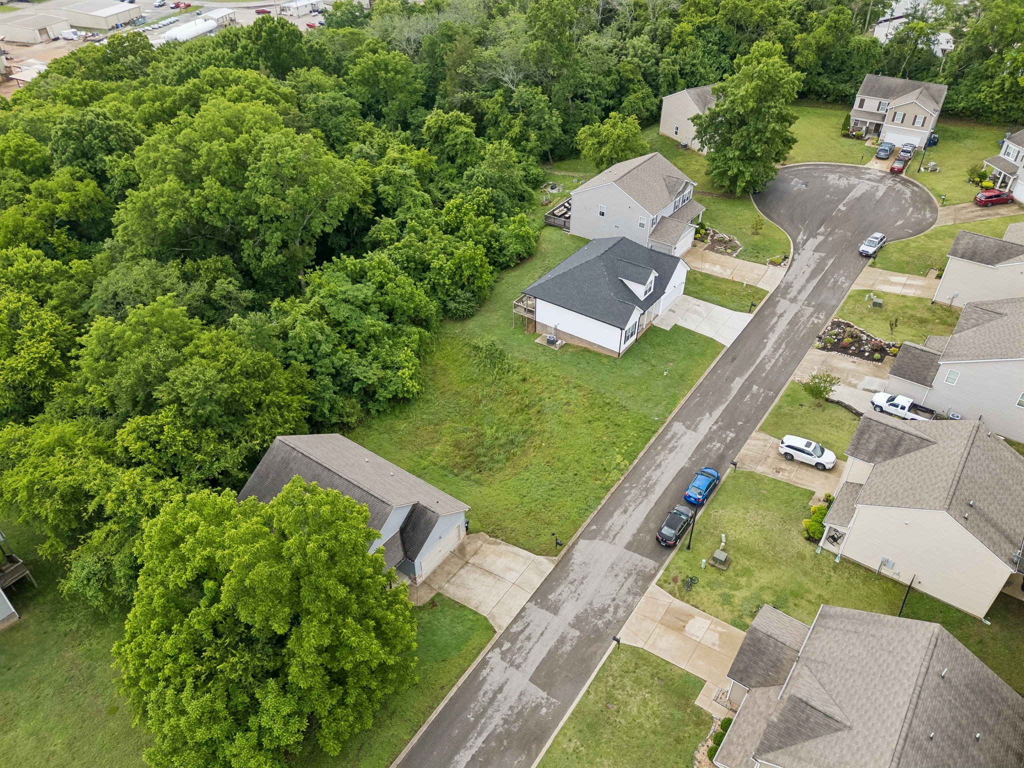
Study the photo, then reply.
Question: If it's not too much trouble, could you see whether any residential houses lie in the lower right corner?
Yes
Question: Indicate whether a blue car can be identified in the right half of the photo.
Yes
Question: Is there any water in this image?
No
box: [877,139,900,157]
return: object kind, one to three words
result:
car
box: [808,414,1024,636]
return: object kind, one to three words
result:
house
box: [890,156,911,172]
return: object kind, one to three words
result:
car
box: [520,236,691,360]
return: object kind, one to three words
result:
house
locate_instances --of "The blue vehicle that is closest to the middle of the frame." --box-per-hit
[681,464,722,505]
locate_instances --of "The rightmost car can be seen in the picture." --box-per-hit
[975,188,1018,206]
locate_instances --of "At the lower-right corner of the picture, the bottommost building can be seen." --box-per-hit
[711,602,1024,768]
